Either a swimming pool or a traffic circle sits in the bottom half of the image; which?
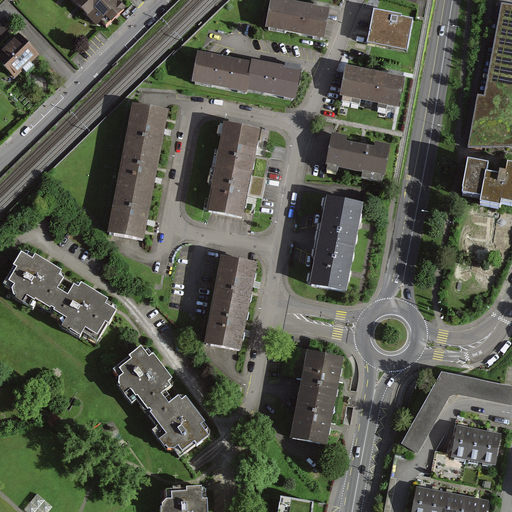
traffic circle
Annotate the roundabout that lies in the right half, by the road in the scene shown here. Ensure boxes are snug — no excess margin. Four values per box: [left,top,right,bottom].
[354,298,428,372]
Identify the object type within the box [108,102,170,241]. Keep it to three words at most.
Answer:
building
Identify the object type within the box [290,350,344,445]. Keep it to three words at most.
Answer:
building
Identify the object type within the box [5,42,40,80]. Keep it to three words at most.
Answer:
house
